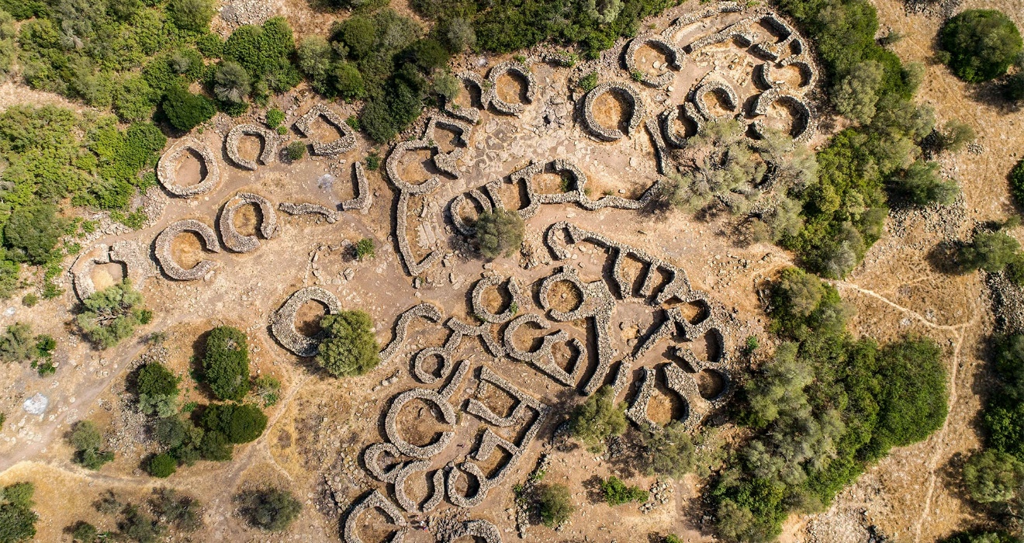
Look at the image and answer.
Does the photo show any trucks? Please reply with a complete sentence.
No, there's no truck here.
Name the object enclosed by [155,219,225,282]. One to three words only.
shed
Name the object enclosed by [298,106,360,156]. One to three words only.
house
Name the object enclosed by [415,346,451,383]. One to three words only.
shed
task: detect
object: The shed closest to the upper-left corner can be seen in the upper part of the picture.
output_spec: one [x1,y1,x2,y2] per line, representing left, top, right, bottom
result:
[159,138,222,197]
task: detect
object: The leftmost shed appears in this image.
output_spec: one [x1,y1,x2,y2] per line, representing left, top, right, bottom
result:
[72,245,147,299]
